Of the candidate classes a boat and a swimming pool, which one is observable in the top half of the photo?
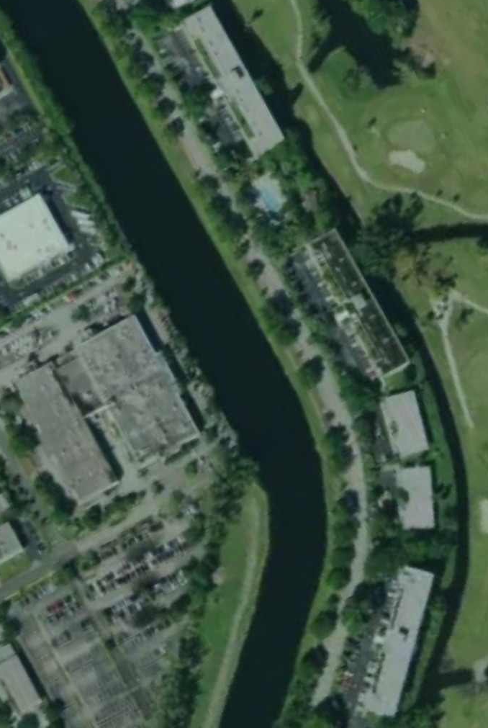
swimming pool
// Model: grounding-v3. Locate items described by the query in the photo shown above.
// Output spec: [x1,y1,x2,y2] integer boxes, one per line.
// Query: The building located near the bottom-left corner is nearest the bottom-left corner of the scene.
[0,645,44,713]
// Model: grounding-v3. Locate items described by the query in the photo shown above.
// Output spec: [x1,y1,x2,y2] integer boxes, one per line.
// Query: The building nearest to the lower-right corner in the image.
[360,567,434,717]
